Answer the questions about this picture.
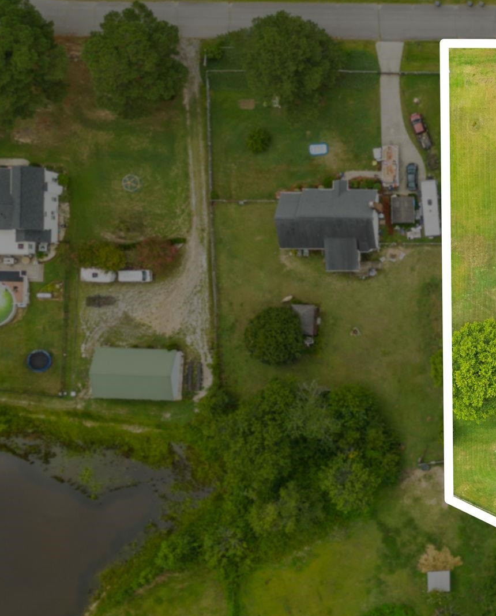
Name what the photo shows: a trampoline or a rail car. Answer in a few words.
trampoline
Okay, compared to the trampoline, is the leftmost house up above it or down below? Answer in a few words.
above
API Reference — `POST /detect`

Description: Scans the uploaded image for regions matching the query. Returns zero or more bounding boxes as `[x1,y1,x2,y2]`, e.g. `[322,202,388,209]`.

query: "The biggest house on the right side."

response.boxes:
[275,179,384,271]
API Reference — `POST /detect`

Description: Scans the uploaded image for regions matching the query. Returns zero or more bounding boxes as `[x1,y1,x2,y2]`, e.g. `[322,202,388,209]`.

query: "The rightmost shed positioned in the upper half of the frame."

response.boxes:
[391,195,415,224]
